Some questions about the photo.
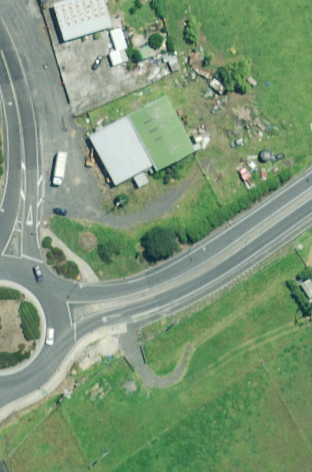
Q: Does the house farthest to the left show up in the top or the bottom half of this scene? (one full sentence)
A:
You can find the house farthest to the left in the top half.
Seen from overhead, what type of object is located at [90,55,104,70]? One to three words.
vehicle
